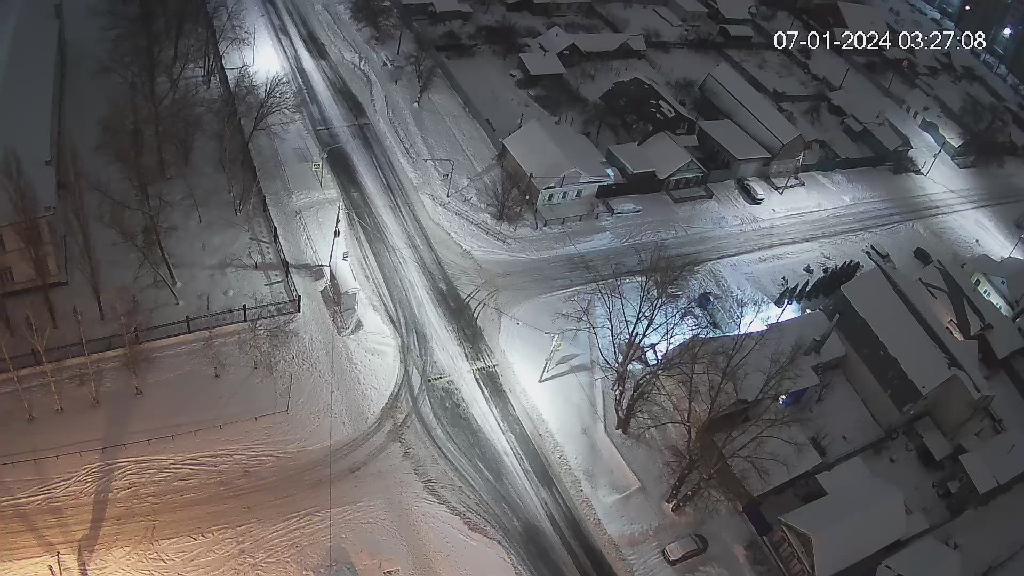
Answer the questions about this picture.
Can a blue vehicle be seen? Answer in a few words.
No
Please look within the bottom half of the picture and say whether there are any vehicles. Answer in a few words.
Yes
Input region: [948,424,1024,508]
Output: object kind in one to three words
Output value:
house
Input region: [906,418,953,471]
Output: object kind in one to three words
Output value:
shed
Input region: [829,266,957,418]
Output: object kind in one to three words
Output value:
house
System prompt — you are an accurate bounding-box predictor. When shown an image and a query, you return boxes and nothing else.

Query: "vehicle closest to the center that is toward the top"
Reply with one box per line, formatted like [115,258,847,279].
[610,198,644,216]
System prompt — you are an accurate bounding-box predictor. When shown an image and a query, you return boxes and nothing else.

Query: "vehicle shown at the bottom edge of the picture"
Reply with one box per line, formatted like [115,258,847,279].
[662,535,712,568]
